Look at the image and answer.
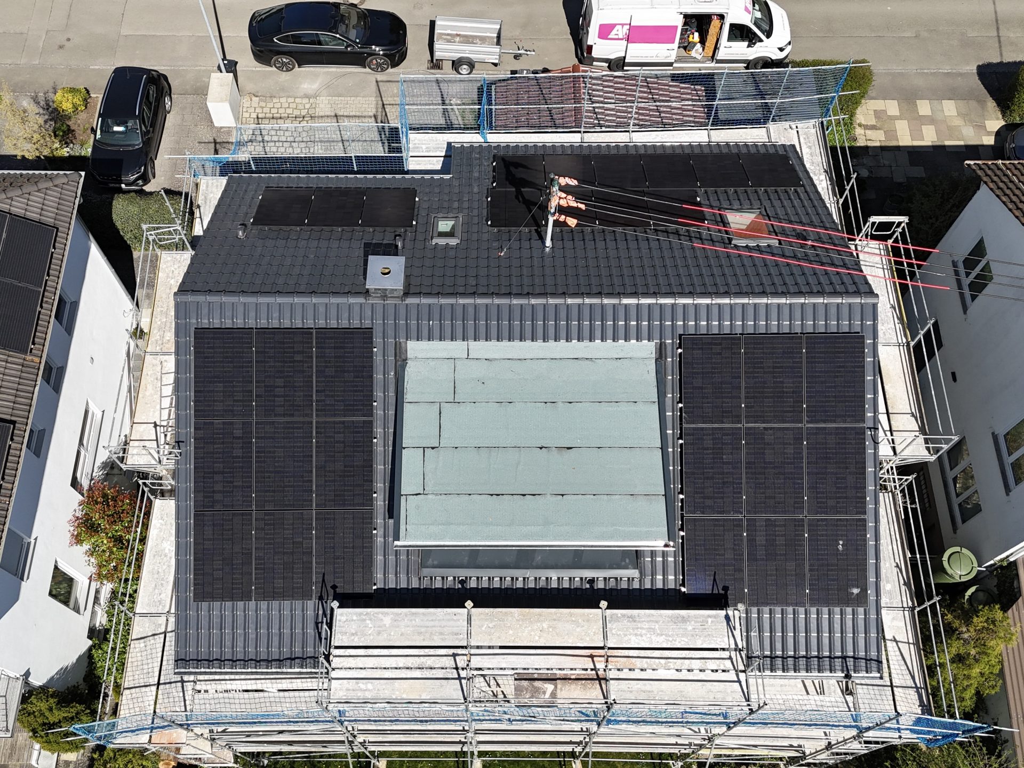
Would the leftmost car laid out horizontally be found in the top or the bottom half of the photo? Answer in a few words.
top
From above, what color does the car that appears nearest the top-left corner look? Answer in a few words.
black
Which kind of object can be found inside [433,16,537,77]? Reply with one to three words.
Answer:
trailer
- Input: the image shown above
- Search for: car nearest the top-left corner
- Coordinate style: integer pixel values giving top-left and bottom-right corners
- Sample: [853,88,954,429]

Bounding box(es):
[83,58,170,198]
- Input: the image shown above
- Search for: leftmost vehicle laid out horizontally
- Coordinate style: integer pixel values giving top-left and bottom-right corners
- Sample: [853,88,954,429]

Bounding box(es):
[247,0,410,73]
